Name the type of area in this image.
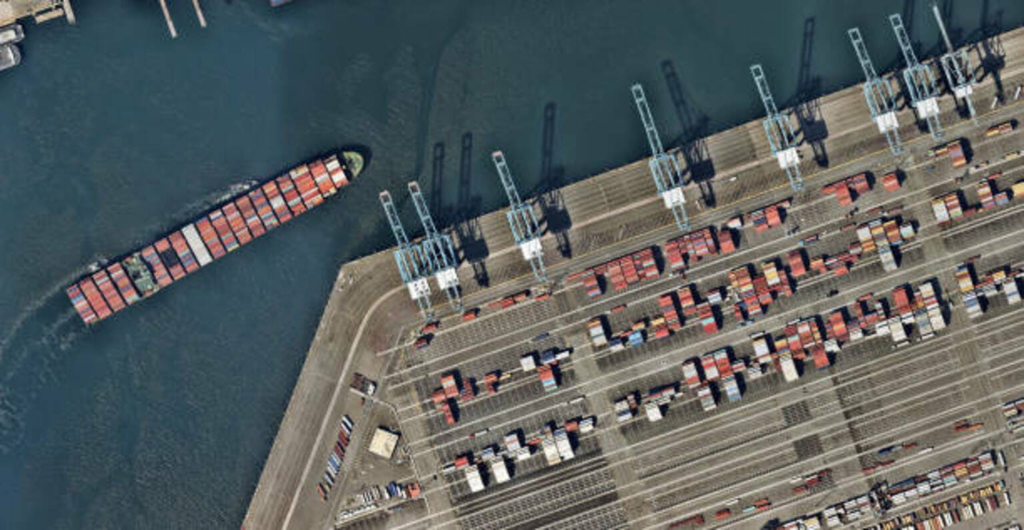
port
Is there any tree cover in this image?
No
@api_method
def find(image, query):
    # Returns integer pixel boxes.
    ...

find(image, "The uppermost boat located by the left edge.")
[0,27,25,50]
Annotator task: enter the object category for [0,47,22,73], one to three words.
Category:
boat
